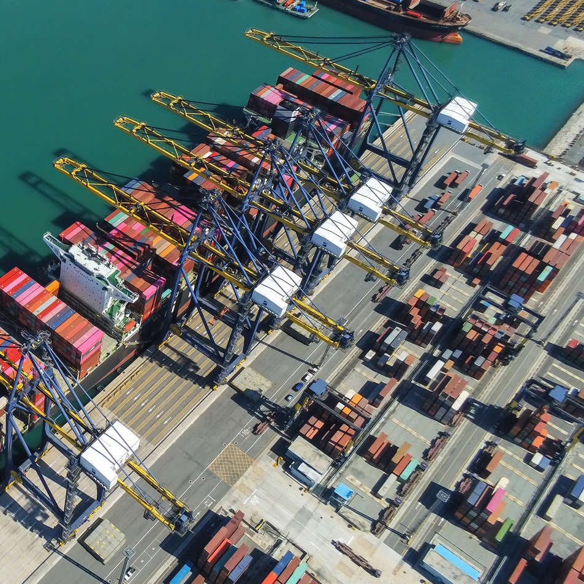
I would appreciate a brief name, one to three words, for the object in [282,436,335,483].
building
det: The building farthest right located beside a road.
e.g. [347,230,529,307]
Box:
[414,542,482,584]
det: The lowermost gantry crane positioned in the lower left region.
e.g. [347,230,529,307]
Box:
[0,315,208,550]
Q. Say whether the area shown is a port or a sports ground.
port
